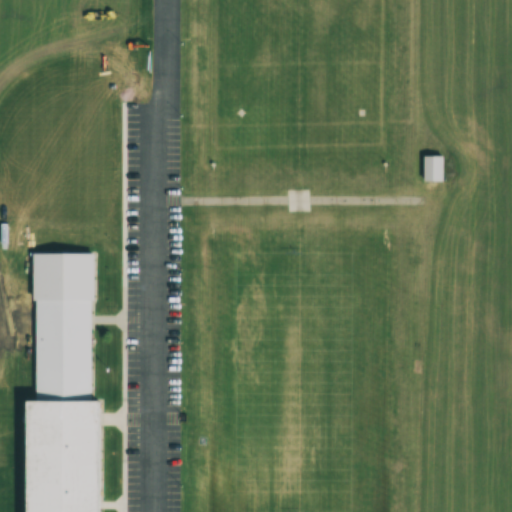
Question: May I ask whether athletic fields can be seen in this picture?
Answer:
Yes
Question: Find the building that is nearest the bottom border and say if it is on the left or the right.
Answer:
left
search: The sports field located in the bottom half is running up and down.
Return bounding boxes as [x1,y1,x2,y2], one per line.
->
[236,252,353,512]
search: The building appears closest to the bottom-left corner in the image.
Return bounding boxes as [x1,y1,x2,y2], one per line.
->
[26,400,104,512]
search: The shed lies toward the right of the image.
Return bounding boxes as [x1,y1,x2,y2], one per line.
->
[424,156,444,182]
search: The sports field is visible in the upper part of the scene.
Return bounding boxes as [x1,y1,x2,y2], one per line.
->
[216,0,383,149]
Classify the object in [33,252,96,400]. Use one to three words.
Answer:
building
